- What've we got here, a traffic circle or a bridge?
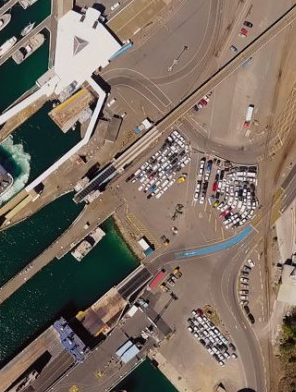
bridge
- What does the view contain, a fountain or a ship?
ship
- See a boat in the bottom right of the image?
No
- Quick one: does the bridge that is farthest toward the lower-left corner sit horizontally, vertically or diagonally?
diagonally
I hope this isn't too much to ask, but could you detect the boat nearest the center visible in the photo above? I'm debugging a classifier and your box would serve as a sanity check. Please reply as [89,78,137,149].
[71,228,105,261]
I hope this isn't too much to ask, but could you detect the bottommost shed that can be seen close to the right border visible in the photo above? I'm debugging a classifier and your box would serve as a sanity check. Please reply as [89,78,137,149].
[274,285,296,307]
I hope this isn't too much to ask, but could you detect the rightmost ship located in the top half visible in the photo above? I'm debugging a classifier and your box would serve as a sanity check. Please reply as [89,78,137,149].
[48,87,95,134]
